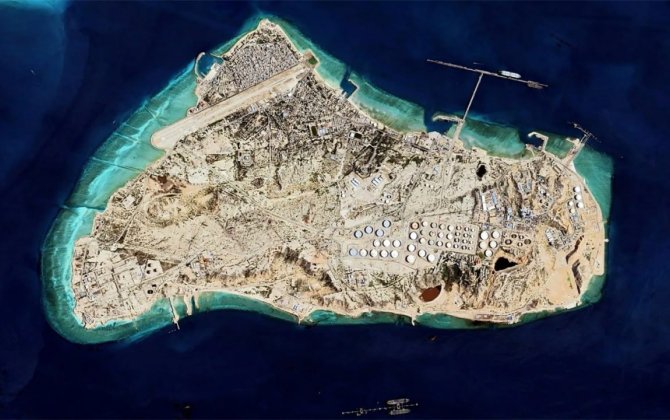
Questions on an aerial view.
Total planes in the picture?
0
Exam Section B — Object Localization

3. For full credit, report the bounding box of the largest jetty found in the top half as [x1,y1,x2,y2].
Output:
[427,59,548,150]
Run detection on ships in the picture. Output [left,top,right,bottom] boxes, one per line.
[390,410,411,415]
[499,70,522,79]
[387,398,410,404]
